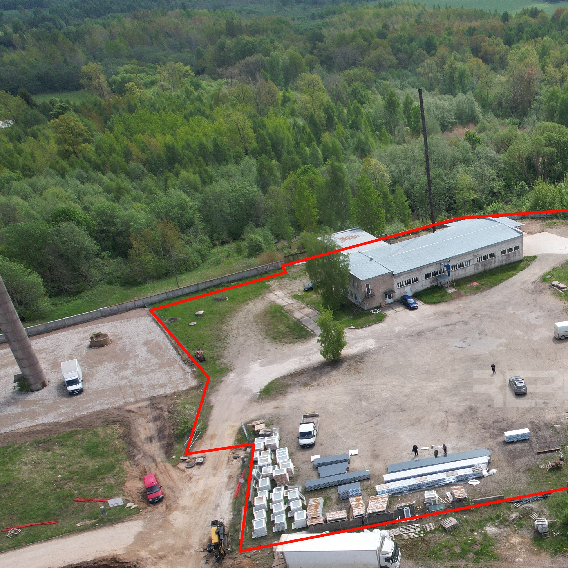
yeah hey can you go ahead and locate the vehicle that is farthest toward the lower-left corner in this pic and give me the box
[141,472,163,503]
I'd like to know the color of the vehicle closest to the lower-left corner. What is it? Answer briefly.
red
